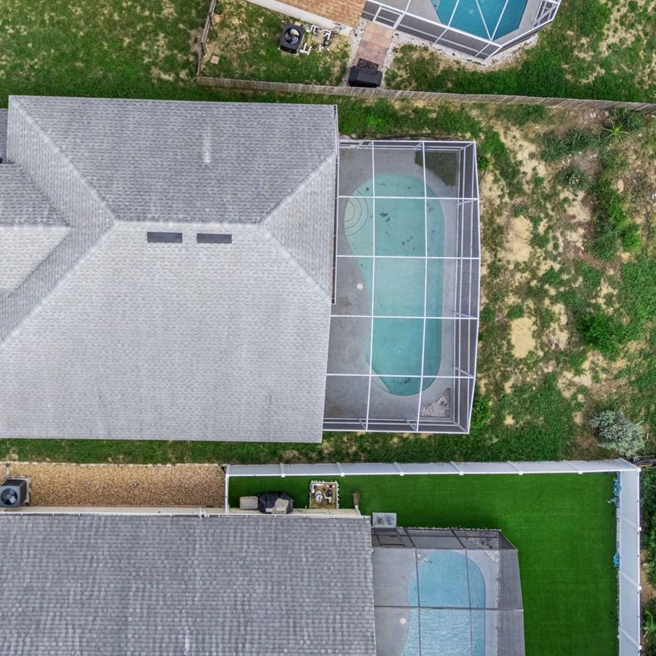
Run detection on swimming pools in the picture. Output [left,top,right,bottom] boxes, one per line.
[397,549,490,656]
[340,169,449,399]
[427,0,532,43]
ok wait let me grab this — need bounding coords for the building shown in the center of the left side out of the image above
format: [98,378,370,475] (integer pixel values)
[0,94,339,442]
